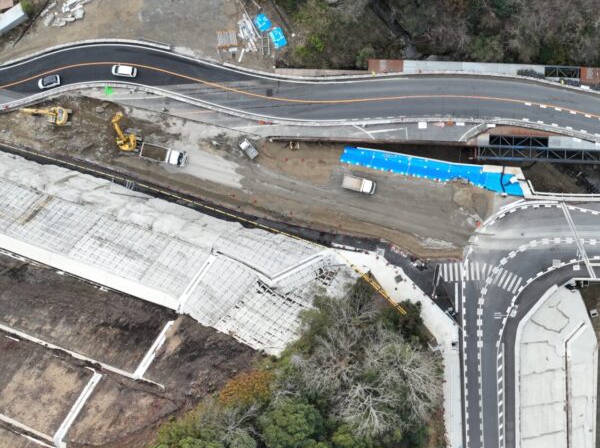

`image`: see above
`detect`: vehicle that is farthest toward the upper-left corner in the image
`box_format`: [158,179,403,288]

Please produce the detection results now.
[35,74,59,88]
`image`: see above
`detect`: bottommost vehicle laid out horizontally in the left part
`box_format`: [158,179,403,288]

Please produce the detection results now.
[131,140,187,168]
